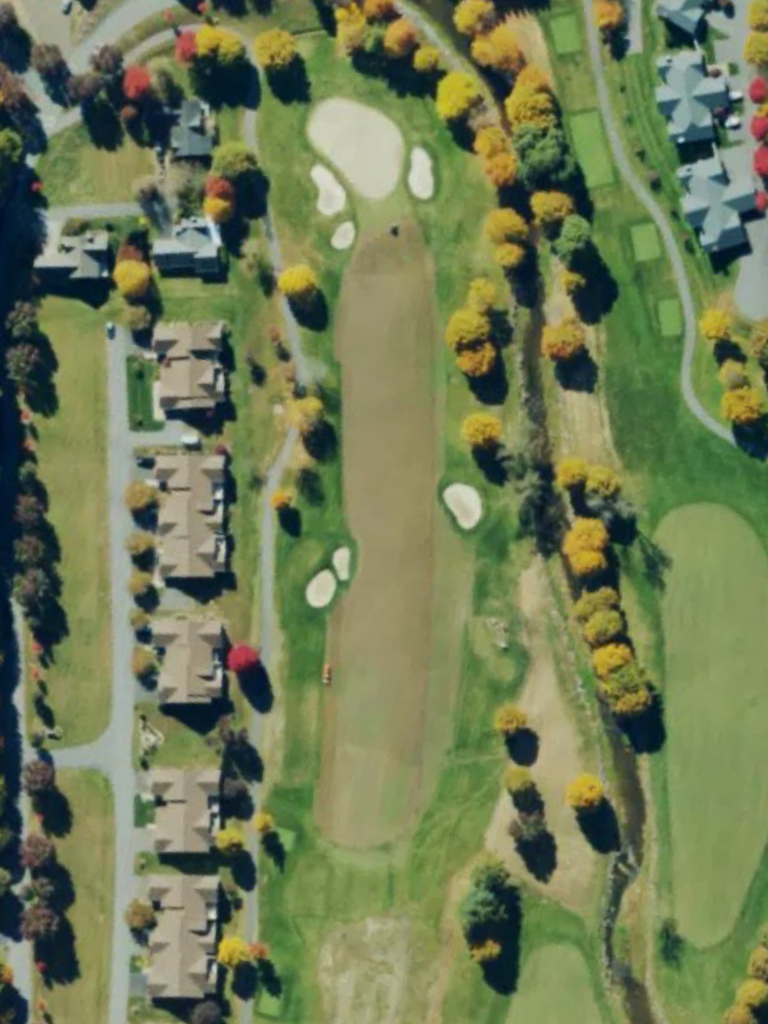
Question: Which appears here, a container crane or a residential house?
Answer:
residential house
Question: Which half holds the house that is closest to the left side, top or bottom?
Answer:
top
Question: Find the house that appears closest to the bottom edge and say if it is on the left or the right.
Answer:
left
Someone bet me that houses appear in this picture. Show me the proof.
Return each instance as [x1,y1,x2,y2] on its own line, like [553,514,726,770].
[653,51,731,148]
[150,768,219,854]
[146,875,218,1000]
[34,231,109,279]
[154,454,224,578]
[675,160,758,256]
[171,100,213,157]
[154,215,221,273]
[152,320,224,409]
[150,619,223,704]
